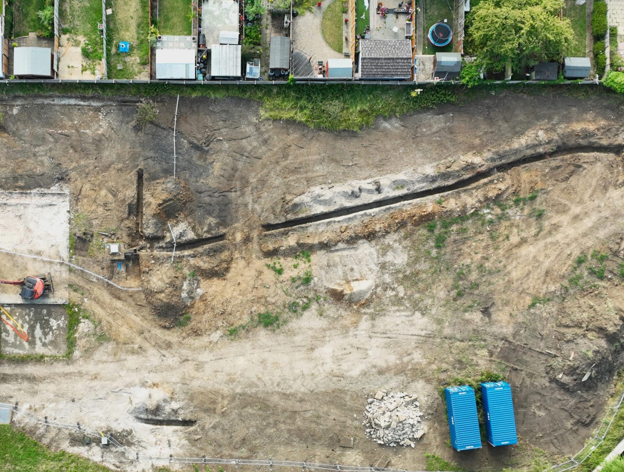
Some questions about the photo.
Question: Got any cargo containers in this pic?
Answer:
Yes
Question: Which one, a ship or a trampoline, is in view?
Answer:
trampoline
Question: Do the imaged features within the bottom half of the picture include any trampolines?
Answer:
No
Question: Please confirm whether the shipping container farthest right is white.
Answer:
No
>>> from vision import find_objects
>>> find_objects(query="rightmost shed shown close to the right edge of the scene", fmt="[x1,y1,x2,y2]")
[558,57,594,79]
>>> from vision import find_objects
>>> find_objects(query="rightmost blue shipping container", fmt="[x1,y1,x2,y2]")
[479,382,517,446]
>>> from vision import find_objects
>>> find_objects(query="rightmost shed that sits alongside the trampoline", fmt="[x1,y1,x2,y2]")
[431,53,463,76]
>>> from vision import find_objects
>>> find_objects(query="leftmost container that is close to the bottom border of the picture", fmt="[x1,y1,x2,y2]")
[444,385,482,450]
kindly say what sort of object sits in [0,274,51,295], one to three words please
work vehicle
